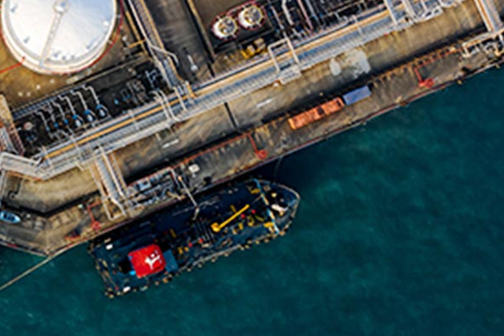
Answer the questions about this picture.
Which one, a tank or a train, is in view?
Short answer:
tank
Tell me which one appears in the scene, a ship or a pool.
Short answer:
ship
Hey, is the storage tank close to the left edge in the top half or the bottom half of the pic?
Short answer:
top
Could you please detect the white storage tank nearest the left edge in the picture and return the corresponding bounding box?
[0,0,124,75]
